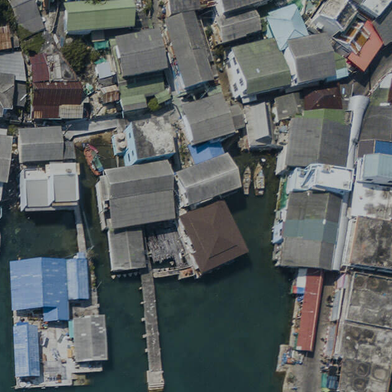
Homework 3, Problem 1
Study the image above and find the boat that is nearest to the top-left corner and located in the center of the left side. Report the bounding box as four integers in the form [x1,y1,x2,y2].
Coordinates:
[83,141,102,179]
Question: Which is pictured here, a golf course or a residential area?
residential area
